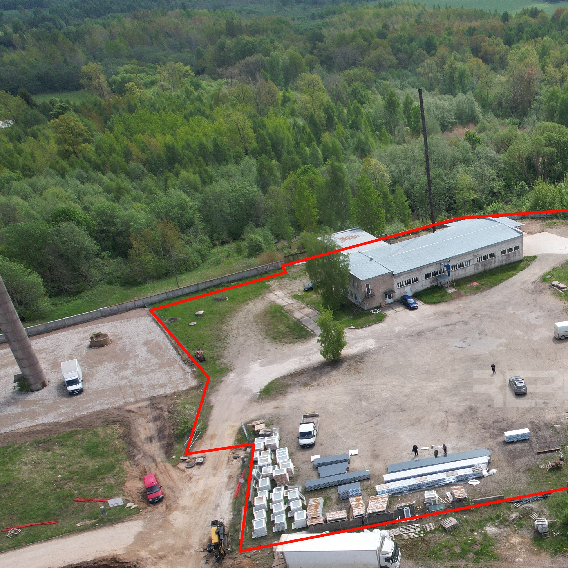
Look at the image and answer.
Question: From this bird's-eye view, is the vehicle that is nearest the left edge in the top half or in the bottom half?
bottom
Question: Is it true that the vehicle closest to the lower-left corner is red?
Yes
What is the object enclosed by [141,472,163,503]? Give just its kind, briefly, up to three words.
vehicle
